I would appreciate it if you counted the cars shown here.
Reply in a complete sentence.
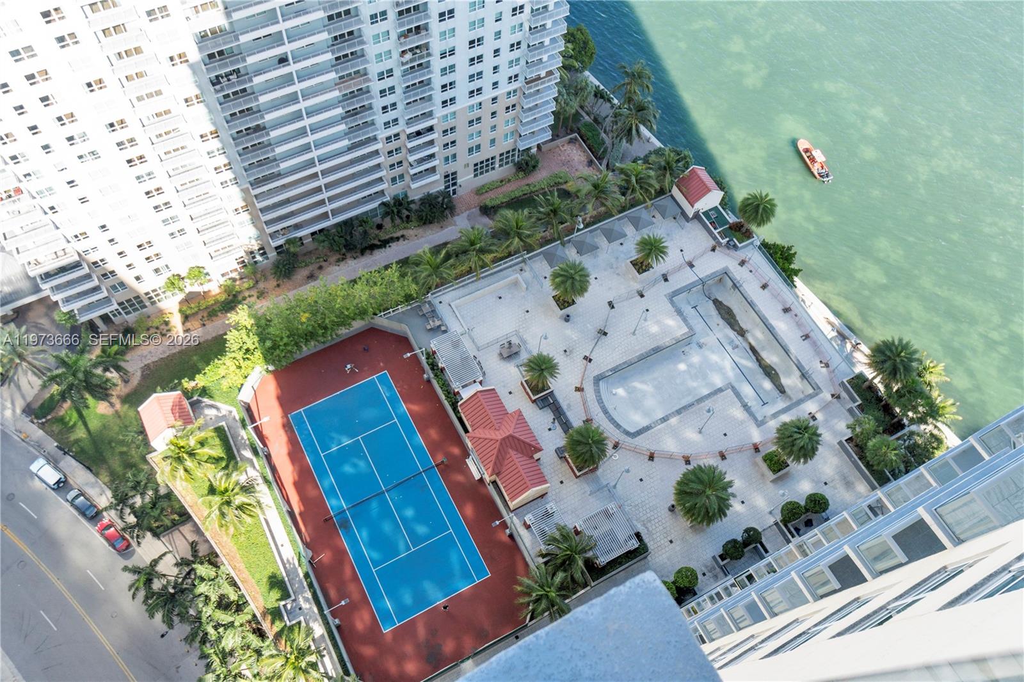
There are 3 cars in the image.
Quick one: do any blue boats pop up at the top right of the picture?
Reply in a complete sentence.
No, the scene shows no blue boat at the top right of the picture.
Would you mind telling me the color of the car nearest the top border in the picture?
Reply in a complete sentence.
The car nearest the top border looks white in the image.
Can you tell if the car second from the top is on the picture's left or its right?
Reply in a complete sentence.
The car second from the top appears in the left half of the scene.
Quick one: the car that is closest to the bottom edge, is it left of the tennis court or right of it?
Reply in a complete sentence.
Looking at the photo, the car that is closest to the bottom edge lies to the left of the tennis court.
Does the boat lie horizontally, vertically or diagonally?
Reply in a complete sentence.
The boat is laid out diagonally.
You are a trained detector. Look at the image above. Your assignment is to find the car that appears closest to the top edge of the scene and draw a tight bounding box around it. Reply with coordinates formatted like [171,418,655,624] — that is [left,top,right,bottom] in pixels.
[29,456,67,492]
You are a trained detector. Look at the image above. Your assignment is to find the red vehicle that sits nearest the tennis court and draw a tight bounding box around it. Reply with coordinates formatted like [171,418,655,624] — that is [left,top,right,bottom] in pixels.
[95,516,133,554]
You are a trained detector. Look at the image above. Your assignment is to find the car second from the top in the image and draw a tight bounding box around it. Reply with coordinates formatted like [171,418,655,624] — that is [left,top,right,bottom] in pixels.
[63,488,101,522]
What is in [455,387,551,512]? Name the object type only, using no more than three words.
building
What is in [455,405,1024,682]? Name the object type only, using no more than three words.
building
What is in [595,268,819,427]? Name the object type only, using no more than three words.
swimming pool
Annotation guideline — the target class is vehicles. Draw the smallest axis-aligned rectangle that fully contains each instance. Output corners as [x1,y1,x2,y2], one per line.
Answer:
[63,488,101,522]
[95,516,133,554]
[29,456,67,492]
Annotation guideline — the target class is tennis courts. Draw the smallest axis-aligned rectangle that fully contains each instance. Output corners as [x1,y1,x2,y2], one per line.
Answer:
[251,327,548,682]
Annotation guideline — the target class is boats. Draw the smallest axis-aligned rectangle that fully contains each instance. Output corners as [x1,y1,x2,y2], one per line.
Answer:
[799,138,835,184]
